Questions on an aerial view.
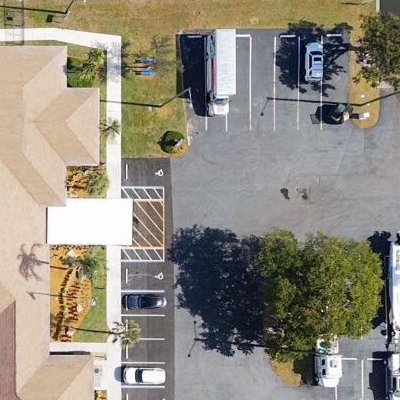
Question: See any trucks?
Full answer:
Yes, you can see a truck in this photo.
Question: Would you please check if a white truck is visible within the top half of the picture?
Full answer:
Yes, within the top half of the picture there is a white truck.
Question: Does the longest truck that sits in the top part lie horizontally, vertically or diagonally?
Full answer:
In this picture, the longest truck that sits in the top part lies vertically.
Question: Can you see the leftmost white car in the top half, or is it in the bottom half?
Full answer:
It is in the bottom half that the leftmost white car appears.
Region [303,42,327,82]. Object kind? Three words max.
car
